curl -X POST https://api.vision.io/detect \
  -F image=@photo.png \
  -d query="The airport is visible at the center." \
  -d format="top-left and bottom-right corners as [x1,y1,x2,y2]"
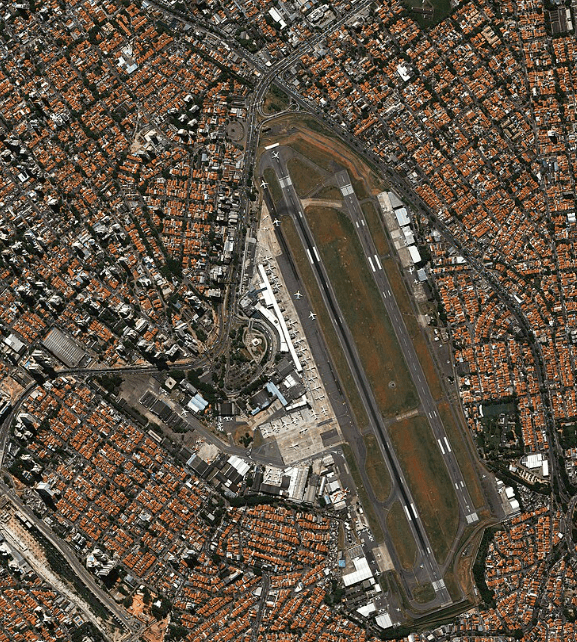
[163,112,520,634]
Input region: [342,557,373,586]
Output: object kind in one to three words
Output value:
hangar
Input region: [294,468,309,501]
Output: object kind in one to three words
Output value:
hangar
